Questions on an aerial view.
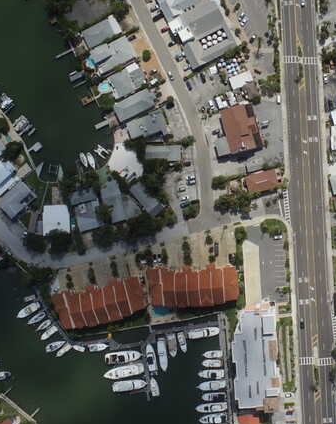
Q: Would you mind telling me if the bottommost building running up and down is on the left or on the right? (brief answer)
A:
right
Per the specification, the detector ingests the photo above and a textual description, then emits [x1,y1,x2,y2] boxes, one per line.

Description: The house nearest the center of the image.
[130,182,163,216]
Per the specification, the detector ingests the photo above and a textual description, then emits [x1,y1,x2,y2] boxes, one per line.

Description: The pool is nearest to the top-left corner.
[81,54,99,72]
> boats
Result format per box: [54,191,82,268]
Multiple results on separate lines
[98,145,109,157]
[166,334,177,357]
[103,363,145,379]
[73,344,86,351]
[87,152,96,170]
[55,343,73,356]
[87,343,108,351]
[13,118,27,130]
[196,380,226,390]
[40,325,58,339]
[186,327,219,340]
[16,301,41,317]
[36,319,52,330]
[203,351,222,358]
[150,377,160,396]
[110,380,147,392]
[156,336,167,372]
[195,402,227,412]
[79,152,88,167]
[201,392,224,401]
[1,99,13,109]
[201,359,222,367]
[198,370,222,378]
[146,343,159,372]
[177,332,187,353]
[44,340,65,353]
[104,351,141,364]
[27,311,46,323]
[198,414,225,424]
